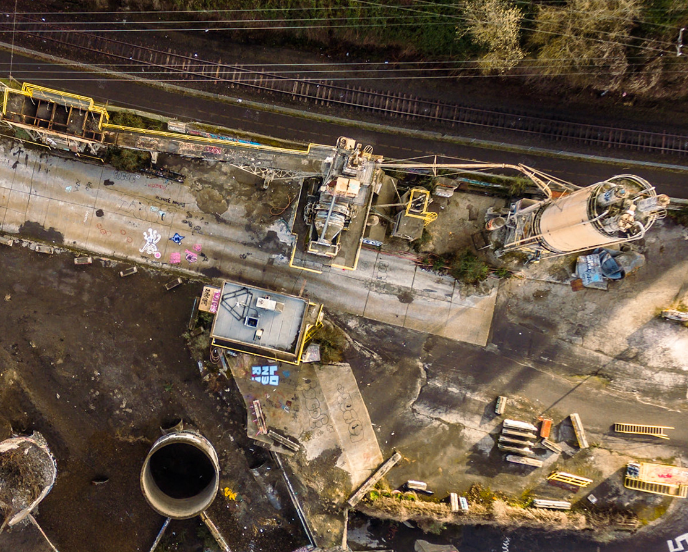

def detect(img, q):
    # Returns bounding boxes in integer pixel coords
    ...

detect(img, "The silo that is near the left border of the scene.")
[0,435,55,528]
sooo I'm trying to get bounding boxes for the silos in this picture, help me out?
[495,161,686,268]
[0,435,55,528]
[139,426,222,516]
